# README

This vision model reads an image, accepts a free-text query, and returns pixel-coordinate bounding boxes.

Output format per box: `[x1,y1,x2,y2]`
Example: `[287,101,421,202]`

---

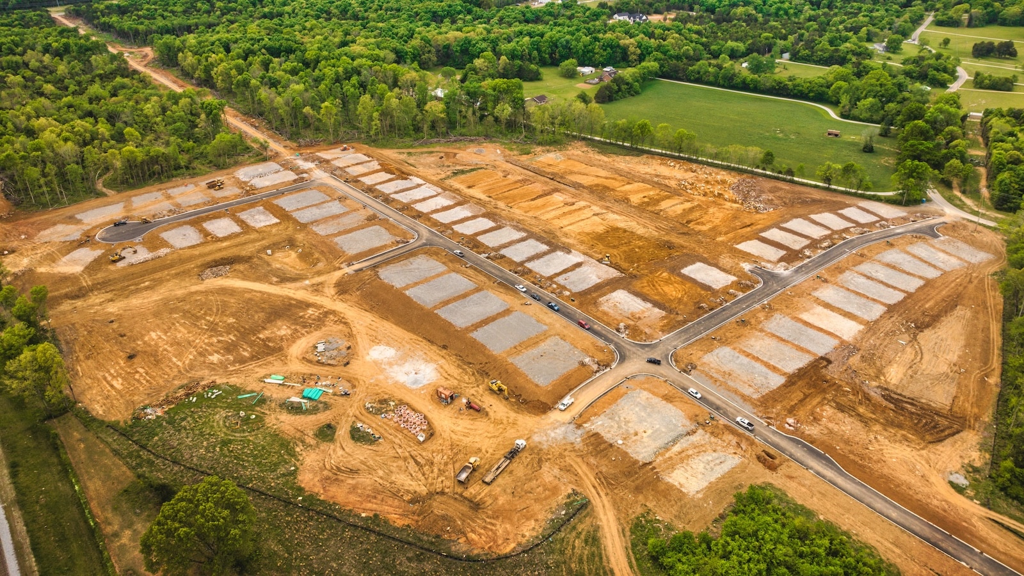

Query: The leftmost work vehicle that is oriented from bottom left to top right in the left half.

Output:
[104,240,140,263]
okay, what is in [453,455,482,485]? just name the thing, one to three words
truck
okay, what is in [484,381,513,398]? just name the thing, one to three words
work vehicle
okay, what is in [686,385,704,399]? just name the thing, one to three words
car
